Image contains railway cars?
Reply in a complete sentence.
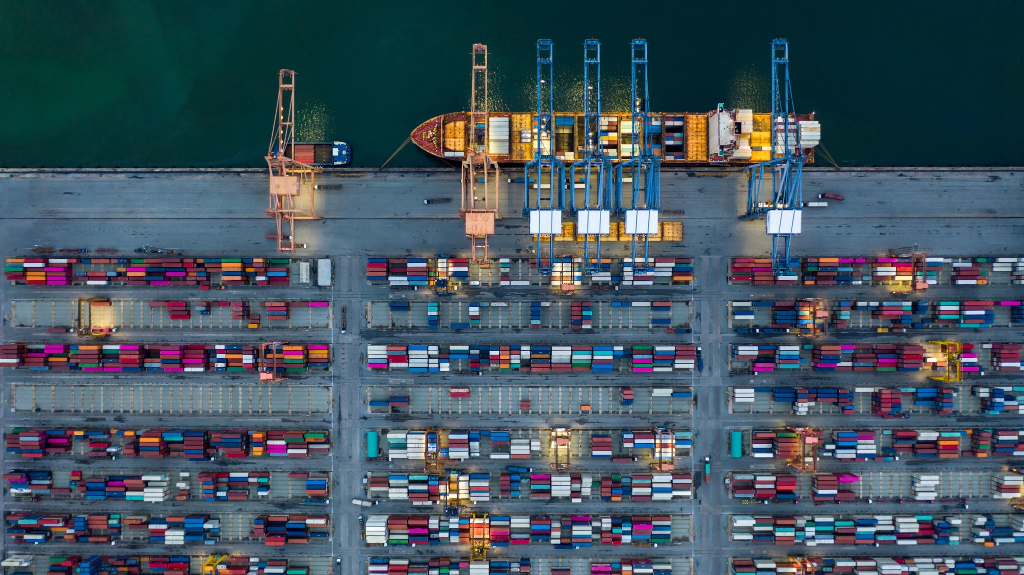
No, no railway car is visible in the view.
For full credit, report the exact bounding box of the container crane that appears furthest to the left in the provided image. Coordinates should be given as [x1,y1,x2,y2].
[76,295,112,340]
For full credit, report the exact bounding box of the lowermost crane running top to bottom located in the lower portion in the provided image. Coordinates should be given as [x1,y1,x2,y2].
[469,508,490,561]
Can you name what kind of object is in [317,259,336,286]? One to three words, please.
shed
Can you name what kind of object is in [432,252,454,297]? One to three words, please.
container crane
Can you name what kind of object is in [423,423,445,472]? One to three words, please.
container crane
